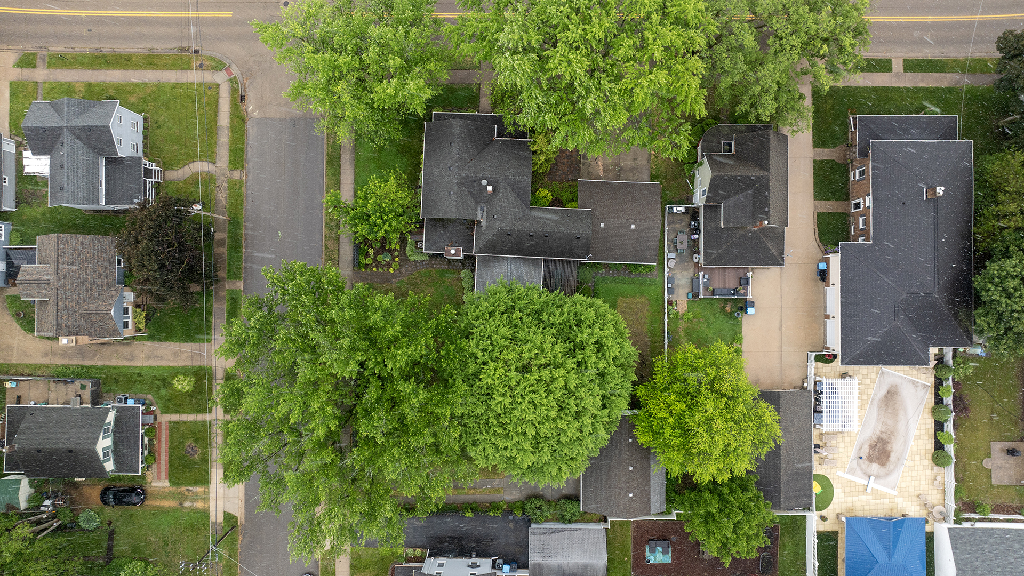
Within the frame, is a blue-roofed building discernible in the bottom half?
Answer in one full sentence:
Yes, I can see a blue-roofed building in the bottom half.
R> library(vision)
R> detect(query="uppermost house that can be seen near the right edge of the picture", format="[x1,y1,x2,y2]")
[822,115,974,366]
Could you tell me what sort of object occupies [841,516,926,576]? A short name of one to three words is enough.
building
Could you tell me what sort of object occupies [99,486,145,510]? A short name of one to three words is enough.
car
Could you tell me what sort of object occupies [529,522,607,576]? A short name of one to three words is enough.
building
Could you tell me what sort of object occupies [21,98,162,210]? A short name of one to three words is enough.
house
